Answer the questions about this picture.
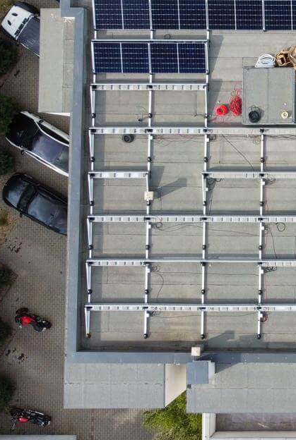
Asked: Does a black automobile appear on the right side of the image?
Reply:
No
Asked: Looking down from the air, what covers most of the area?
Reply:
buildings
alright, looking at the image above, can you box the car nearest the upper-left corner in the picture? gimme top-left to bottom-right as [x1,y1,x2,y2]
[1,2,41,54]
